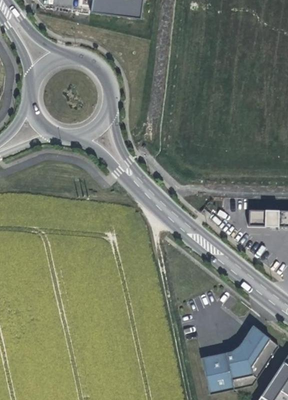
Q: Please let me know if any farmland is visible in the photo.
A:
Yes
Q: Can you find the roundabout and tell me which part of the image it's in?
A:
top left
